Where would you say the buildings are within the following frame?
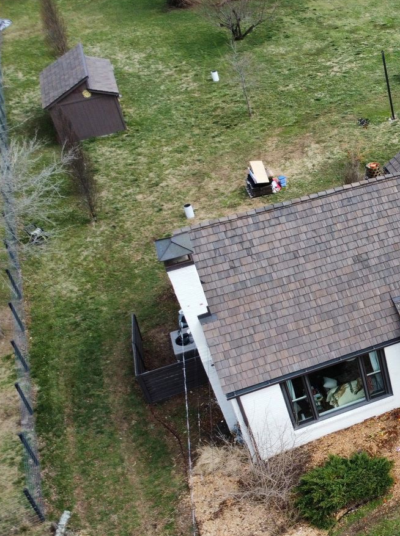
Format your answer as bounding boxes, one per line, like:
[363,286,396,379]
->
[38,44,126,143]
[154,151,400,457]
